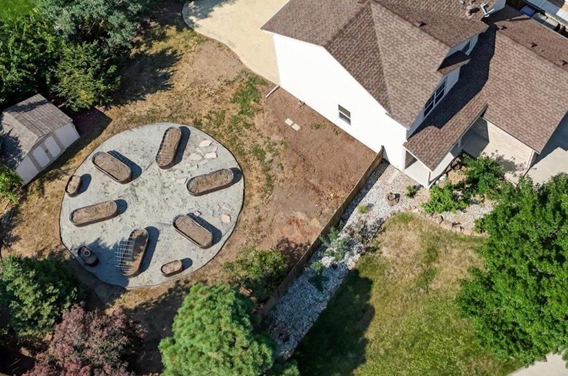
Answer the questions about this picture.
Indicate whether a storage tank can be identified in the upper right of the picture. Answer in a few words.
No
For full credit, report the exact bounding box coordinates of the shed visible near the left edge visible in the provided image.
[0,88,84,182]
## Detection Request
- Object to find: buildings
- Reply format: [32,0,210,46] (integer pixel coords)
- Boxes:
[0,88,84,182]
[259,0,568,189]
